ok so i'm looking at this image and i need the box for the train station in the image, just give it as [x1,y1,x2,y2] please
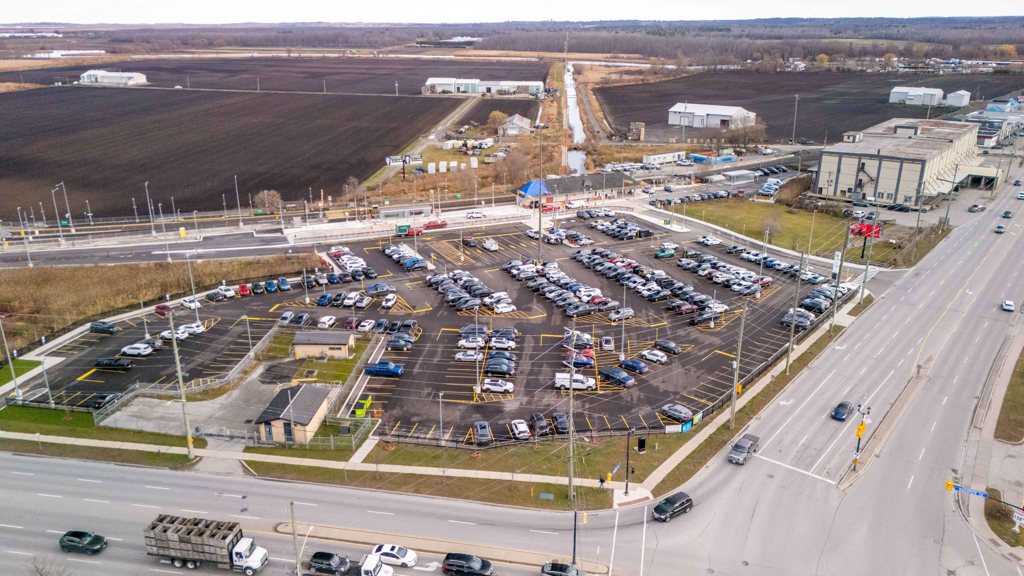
[510,172,649,208]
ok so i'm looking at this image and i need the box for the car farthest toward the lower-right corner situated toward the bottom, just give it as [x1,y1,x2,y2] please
[830,402,855,423]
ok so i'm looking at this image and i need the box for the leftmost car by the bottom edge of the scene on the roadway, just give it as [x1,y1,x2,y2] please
[57,532,109,558]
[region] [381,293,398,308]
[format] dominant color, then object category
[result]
white car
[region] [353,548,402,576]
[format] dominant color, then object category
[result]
white truck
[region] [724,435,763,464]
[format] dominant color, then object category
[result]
gray truck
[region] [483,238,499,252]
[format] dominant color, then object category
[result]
white vehicle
